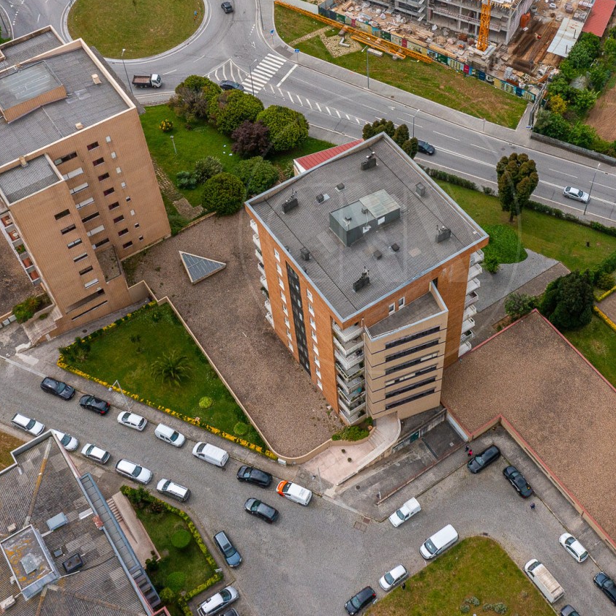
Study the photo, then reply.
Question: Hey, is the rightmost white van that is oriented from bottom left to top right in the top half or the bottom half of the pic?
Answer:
bottom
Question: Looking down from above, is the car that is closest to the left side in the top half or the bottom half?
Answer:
bottom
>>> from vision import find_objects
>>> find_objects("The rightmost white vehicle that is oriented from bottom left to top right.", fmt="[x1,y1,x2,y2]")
[416,520,462,563]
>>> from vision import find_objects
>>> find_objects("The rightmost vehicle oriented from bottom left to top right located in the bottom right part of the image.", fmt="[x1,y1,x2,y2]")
[464,441,504,477]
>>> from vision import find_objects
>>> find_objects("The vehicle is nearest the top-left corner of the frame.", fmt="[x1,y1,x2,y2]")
[129,71,162,88]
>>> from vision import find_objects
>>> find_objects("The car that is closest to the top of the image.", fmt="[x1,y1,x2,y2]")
[219,1,235,17]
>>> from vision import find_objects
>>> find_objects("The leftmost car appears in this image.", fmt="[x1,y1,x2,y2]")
[7,411,50,438]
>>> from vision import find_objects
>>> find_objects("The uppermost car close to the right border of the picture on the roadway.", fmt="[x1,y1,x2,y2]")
[561,185,592,203]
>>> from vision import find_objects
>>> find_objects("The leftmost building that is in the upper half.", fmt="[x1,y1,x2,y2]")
[0,26,171,325]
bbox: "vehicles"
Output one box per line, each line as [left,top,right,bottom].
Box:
[219,1,235,17]
[149,419,189,449]
[273,480,314,507]
[499,463,537,502]
[51,423,82,451]
[234,465,275,490]
[189,440,231,470]
[129,71,162,88]
[241,498,280,525]
[413,137,439,155]
[520,558,569,607]
[37,377,78,402]
[561,185,592,203]
[112,458,154,485]
[7,411,50,438]
[153,479,192,504]
[114,413,150,435]
[194,585,241,616]
[377,562,411,597]
[77,394,114,417]
[216,78,245,91]
[464,441,504,477]
[590,571,616,608]
[342,583,381,616]
[209,528,245,570]
[555,531,593,567]
[416,520,462,563]
[77,442,113,466]
[387,490,426,530]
